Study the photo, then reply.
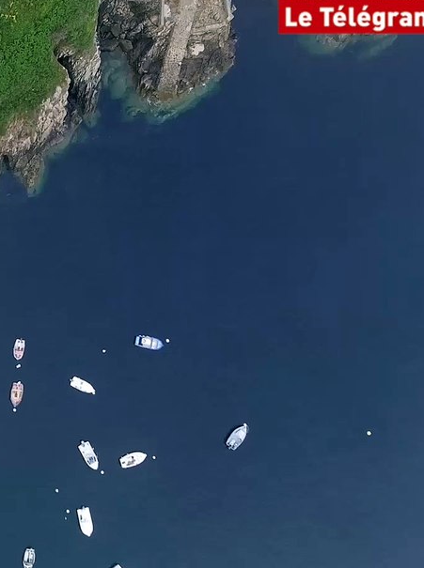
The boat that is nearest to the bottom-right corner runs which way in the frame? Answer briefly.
at an angle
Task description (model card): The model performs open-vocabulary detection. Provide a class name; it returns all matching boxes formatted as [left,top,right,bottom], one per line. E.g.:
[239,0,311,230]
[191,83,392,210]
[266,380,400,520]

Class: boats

[136,334,166,351]
[78,507,94,539]
[121,452,149,468]
[14,338,27,360]
[80,441,101,472]
[23,549,36,568]
[11,381,25,408]
[227,425,249,451]
[70,376,96,395]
